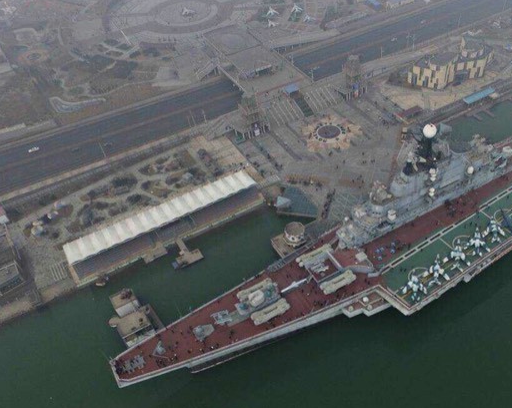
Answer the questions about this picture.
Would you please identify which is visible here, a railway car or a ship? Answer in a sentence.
The image shows a ship.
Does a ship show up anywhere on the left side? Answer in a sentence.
Yes, a ship is visible on the left side.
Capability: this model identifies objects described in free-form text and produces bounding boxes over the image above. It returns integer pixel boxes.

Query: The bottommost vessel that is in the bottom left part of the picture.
[108,288,163,347]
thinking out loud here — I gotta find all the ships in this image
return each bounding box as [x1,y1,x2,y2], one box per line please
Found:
[108,288,163,347]
[99,119,512,383]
